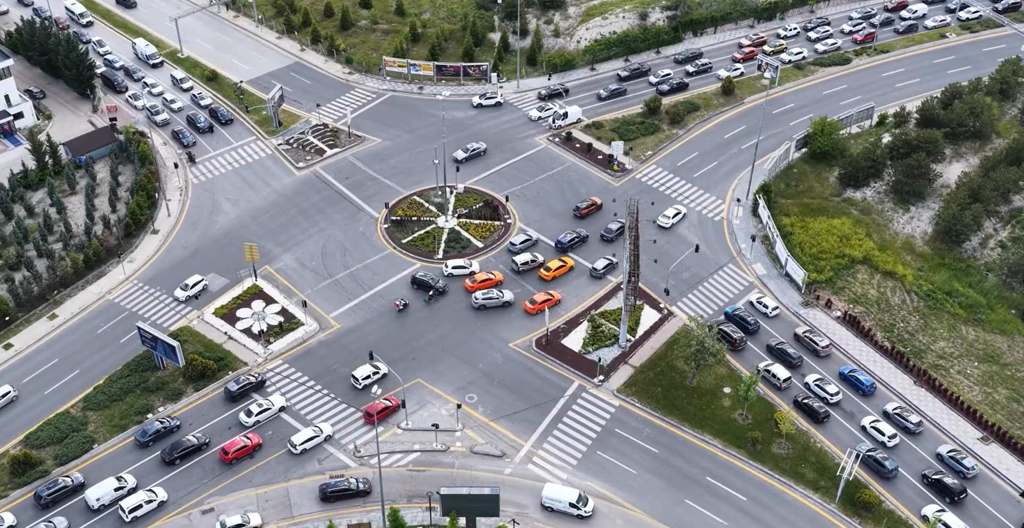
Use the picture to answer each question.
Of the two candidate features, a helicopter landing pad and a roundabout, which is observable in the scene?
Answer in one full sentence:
There is a roundabout in the scene.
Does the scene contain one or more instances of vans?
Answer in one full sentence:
Yes, looking at the shot, I can spot a van.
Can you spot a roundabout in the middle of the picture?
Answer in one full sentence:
Yes, there is a roundabout in the middle of the picture.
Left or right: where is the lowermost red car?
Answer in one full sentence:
You can find the lowermost red car on the left side of the picture.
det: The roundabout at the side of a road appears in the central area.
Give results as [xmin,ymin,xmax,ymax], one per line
[384,187,510,260]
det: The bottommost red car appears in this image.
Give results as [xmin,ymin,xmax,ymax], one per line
[217,434,265,465]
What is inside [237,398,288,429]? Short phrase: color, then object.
white car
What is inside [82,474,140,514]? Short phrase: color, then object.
white van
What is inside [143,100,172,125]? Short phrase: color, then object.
white car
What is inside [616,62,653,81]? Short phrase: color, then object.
gray vehicle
